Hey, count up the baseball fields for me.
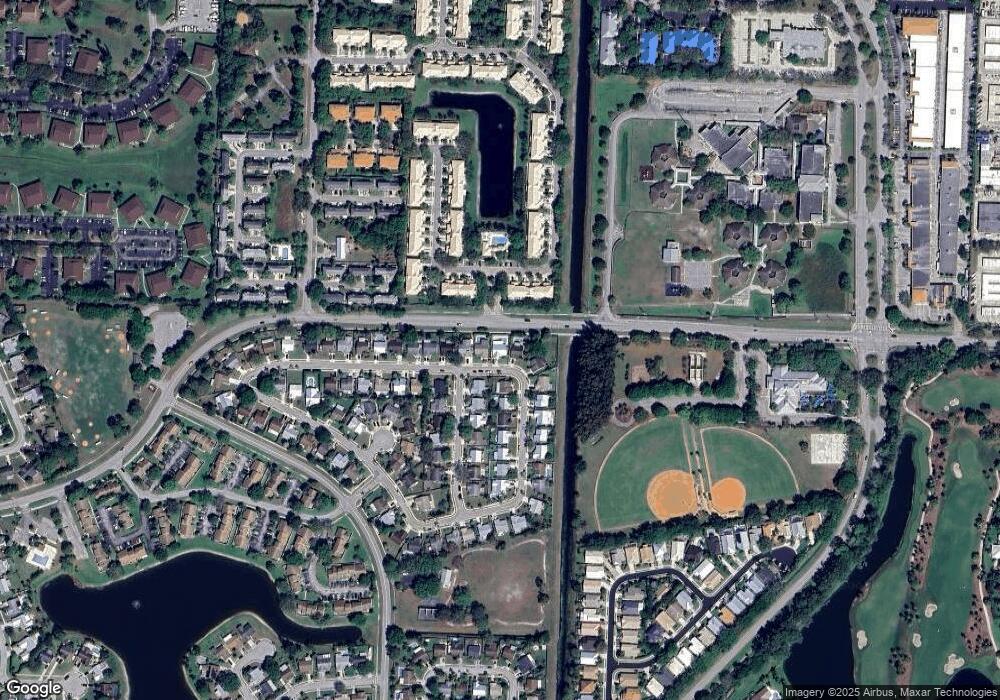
2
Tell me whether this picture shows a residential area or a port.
residential area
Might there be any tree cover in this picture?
Yes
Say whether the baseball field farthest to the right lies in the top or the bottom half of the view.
bottom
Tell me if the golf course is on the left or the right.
right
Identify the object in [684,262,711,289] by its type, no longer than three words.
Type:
basketball court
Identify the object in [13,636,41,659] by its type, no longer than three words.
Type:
house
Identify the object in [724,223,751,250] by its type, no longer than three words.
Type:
building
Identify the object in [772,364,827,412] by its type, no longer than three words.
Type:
building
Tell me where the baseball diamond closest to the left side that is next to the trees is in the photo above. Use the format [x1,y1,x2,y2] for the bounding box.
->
[594,416,700,528]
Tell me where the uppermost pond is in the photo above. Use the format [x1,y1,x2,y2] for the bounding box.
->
[429,91,516,219]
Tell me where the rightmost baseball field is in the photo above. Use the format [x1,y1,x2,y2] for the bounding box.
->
[702,427,798,514]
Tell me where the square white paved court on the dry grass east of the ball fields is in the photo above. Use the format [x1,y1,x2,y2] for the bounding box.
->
[811,434,848,464]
